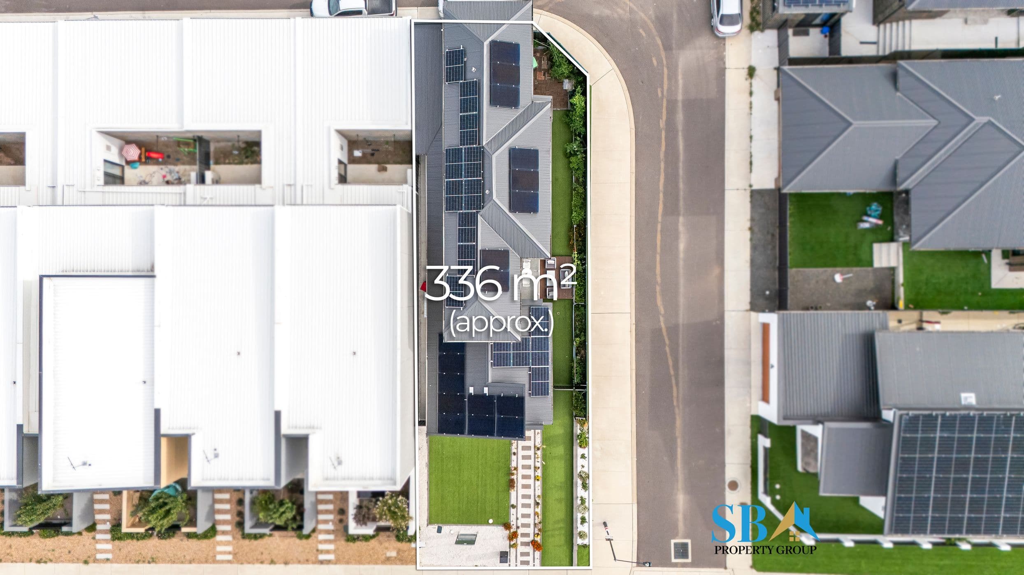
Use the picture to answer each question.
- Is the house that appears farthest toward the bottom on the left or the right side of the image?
right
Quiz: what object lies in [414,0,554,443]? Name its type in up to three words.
house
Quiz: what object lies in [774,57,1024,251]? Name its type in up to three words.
house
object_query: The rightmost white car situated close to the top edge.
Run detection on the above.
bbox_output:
[707,0,742,43]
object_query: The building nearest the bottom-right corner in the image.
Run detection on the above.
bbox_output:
[762,311,1024,539]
